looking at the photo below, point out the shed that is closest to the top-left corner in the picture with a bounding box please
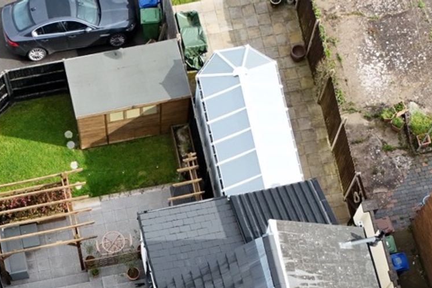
[64,38,194,153]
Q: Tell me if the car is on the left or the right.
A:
left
